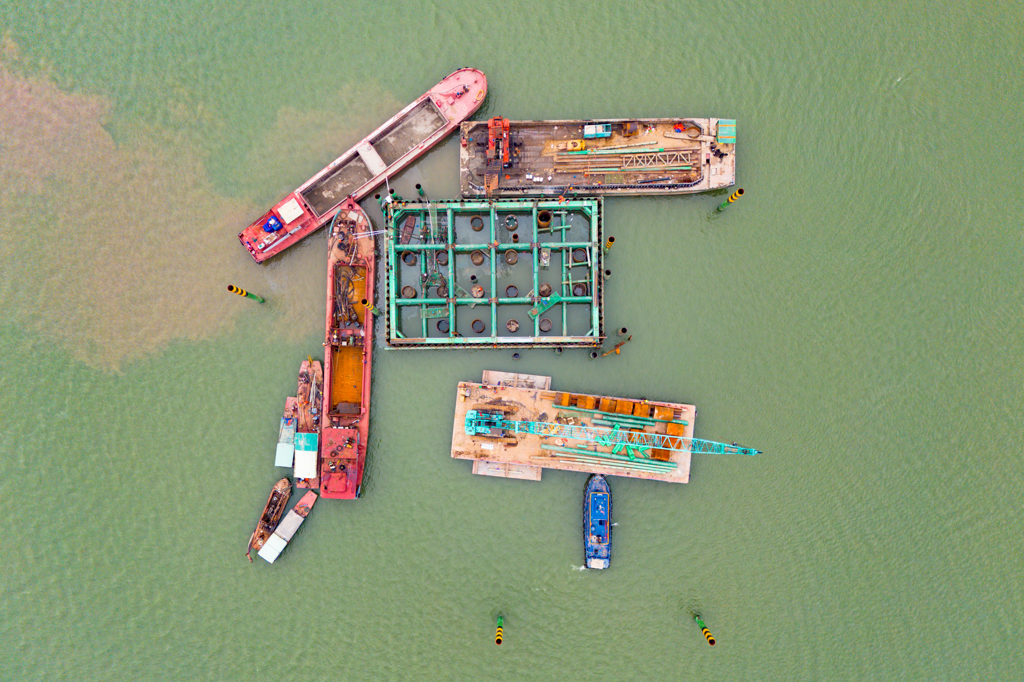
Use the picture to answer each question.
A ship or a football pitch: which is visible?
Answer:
ship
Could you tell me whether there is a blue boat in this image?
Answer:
Yes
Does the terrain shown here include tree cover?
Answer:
No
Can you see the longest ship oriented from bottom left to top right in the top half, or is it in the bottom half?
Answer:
top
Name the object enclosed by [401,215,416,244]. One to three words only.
boat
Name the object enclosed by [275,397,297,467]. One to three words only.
boat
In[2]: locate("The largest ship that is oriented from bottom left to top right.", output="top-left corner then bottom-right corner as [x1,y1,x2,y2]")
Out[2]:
[238,65,488,266]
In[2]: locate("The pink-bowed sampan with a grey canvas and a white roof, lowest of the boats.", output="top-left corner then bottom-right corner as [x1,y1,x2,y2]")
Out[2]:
[258,491,318,564]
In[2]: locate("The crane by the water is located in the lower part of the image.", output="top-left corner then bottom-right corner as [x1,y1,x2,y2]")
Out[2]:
[465,403,763,455]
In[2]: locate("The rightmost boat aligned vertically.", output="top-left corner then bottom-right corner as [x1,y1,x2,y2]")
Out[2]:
[583,474,613,569]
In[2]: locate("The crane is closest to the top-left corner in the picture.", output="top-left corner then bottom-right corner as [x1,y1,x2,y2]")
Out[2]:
[476,116,523,205]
